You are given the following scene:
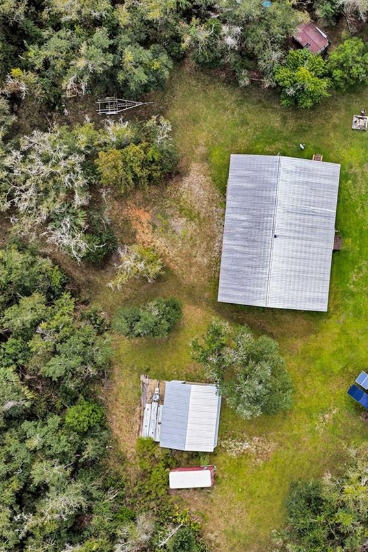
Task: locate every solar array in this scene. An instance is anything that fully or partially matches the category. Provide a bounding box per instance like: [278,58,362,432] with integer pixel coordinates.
[356,371,368,391]
[348,385,368,409]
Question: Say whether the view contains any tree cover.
Yes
